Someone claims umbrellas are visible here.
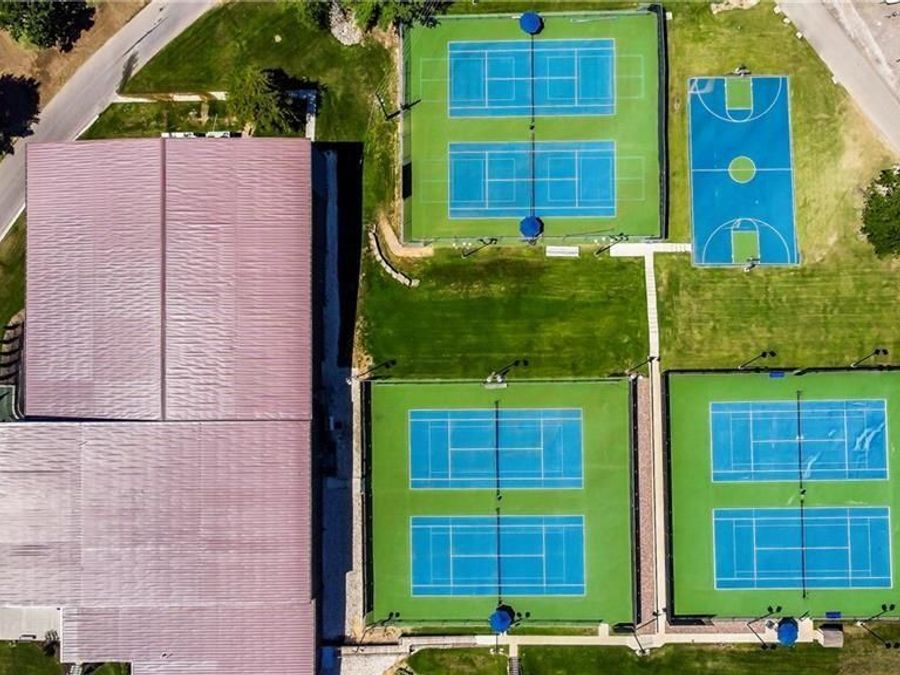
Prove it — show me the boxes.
[490,608,512,632]
[777,621,799,642]
[519,216,542,239]
[519,13,543,37]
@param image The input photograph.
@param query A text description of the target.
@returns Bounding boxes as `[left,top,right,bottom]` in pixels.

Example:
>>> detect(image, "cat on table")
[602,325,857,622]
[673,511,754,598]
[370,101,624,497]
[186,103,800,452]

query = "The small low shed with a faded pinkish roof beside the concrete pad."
[809,628,844,647]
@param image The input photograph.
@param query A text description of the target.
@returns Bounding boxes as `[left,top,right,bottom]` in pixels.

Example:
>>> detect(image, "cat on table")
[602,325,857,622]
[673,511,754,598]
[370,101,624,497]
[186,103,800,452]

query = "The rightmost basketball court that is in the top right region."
[687,75,798,266]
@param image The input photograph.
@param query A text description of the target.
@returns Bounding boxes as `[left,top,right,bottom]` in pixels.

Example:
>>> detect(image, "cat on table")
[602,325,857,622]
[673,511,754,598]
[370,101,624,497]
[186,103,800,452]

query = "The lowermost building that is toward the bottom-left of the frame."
[0,419,322,675]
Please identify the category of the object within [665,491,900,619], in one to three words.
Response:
tennis court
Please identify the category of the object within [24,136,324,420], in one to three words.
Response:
building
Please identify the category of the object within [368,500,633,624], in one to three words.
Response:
tennis court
